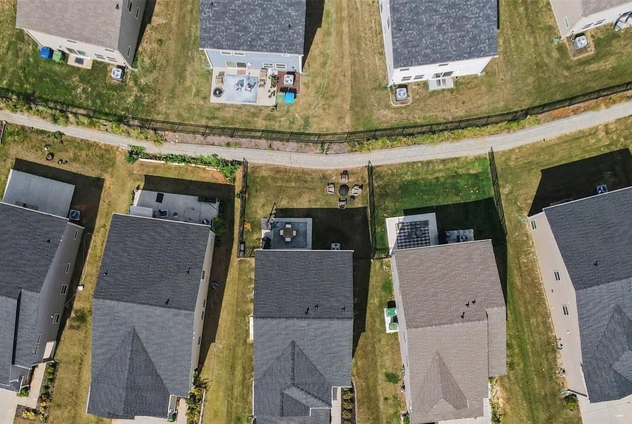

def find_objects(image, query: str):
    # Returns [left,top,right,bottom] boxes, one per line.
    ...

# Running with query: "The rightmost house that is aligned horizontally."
[544,0,632,39]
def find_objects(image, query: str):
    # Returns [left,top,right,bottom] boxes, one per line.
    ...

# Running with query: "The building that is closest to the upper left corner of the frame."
[17,0,145,69]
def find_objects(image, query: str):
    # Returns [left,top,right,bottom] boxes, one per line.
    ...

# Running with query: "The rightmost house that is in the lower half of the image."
[527,186,632,403]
